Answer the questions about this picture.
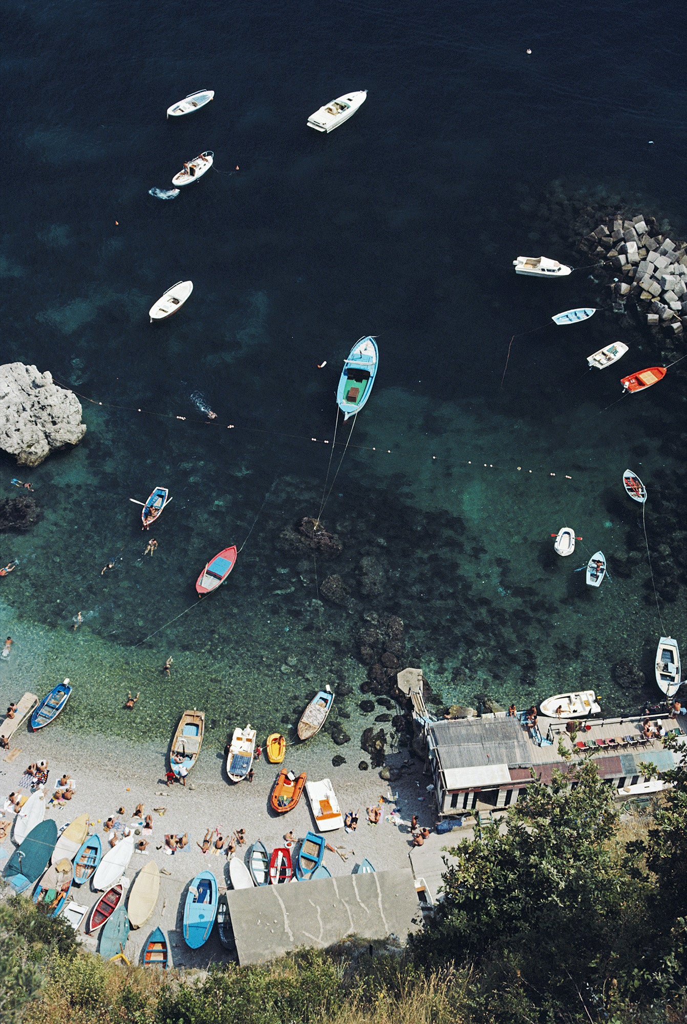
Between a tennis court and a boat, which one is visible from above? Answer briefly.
boat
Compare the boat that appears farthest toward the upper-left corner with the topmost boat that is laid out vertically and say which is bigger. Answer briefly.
the topmost boat that is laid out vertically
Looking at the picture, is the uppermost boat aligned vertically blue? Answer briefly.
Yes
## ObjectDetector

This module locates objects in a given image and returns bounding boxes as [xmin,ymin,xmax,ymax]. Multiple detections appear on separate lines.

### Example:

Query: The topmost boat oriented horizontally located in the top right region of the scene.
[510,258,571,283]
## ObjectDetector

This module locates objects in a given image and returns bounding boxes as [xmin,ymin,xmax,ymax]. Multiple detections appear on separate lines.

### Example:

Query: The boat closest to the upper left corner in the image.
[167,91,215,122]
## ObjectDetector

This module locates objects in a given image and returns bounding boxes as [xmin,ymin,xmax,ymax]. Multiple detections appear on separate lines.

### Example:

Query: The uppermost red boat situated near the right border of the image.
[617,367,666,396]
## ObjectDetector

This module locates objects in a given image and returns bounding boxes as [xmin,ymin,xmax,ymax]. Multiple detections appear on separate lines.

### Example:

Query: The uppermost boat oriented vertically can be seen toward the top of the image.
[343,335,381,424]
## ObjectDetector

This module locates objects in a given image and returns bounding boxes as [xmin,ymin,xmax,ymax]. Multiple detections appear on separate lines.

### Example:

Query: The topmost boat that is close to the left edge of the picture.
[32,674,71,730]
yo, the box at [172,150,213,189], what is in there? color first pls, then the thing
white boat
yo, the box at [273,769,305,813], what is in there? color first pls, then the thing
orange boat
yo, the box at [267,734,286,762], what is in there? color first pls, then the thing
yellow boat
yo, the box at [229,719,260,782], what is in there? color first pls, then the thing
white boat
